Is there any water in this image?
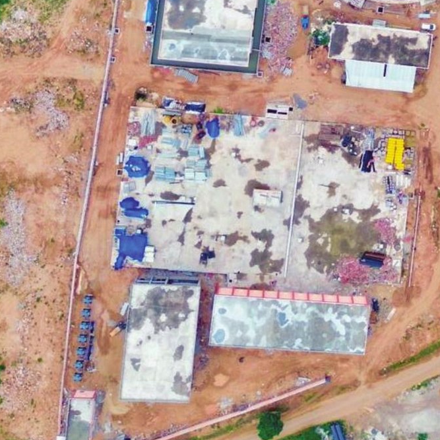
Yes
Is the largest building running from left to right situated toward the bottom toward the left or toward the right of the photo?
right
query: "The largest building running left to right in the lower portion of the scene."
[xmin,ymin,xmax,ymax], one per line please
[208,279,373,355]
